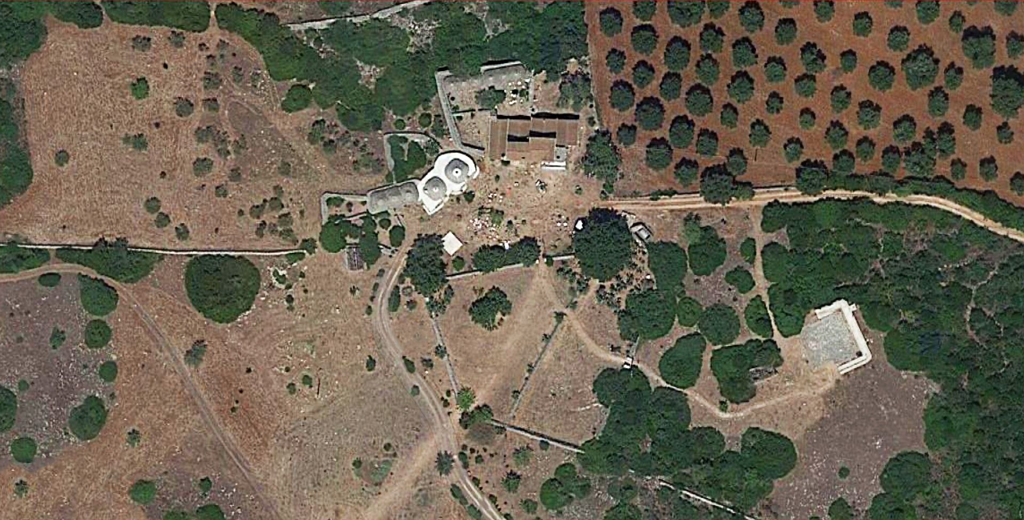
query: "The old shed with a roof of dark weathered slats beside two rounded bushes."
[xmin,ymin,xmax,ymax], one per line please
[345,245,364,271]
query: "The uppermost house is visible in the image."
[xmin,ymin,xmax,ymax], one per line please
[479,61,528,90]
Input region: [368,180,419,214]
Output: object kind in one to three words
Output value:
barn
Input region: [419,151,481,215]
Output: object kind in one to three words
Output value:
house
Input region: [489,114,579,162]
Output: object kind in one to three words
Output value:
house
